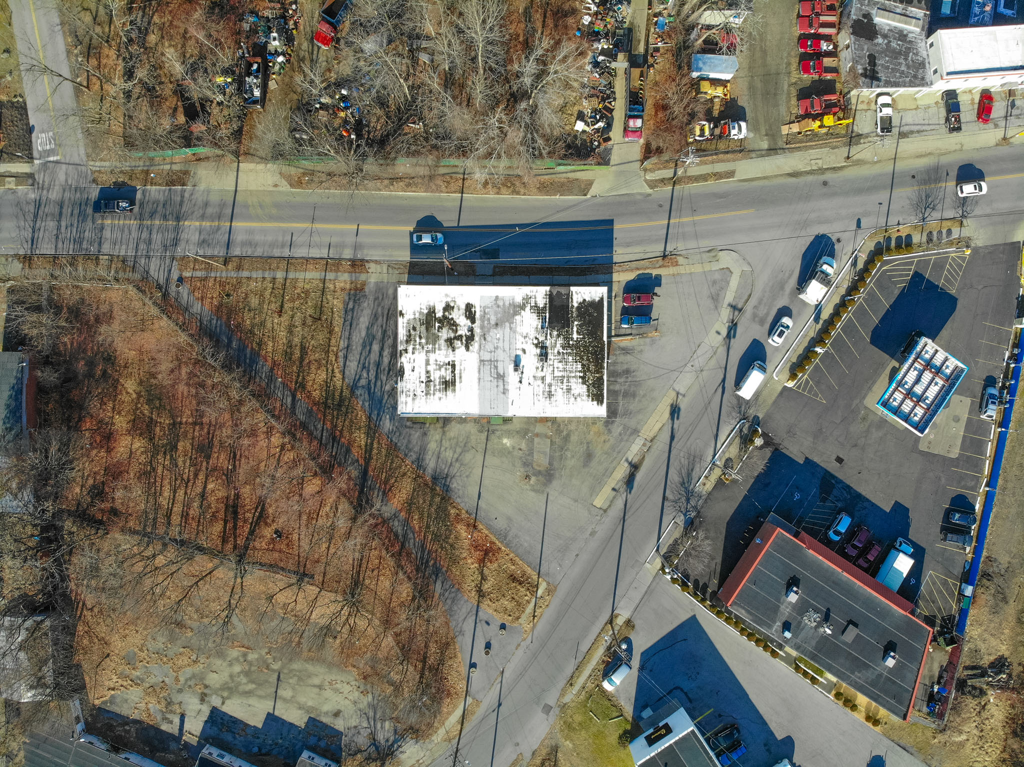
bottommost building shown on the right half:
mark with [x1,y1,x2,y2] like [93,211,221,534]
[628,707,718,767]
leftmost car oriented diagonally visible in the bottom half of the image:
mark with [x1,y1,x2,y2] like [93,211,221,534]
[604,654,634,690]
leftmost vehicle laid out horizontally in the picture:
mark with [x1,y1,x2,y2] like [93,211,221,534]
[96,198,137,214]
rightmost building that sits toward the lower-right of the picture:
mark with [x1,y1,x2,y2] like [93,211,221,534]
[717,515,933,721]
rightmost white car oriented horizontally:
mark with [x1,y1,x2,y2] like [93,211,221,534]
[956,181,987,196]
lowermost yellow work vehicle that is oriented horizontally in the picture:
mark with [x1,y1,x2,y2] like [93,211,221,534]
[799,117,850,137]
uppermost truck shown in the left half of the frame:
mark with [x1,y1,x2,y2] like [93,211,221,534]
[312,0,350,54]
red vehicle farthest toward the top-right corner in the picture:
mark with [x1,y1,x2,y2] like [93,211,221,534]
[976,93,994,123]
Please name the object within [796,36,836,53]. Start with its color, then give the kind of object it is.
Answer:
red vehicle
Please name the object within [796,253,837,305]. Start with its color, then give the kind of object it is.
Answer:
white truck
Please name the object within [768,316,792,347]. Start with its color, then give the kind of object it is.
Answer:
white car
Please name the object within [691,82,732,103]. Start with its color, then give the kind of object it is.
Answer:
yellow work vehicle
